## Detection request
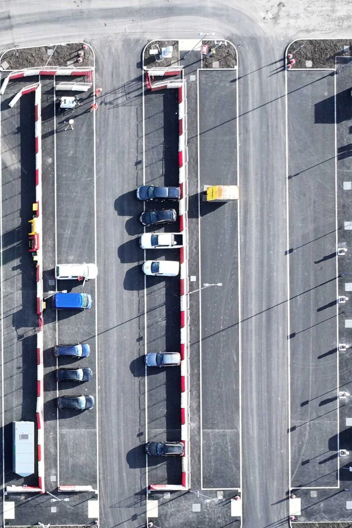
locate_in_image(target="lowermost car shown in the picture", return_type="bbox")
[144,440,184,458]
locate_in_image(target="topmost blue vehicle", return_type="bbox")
[136,182,182,202]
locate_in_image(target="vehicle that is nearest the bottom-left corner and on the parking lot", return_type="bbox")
[56,393,95,411]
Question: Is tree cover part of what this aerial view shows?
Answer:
No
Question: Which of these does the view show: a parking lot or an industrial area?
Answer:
parking lot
